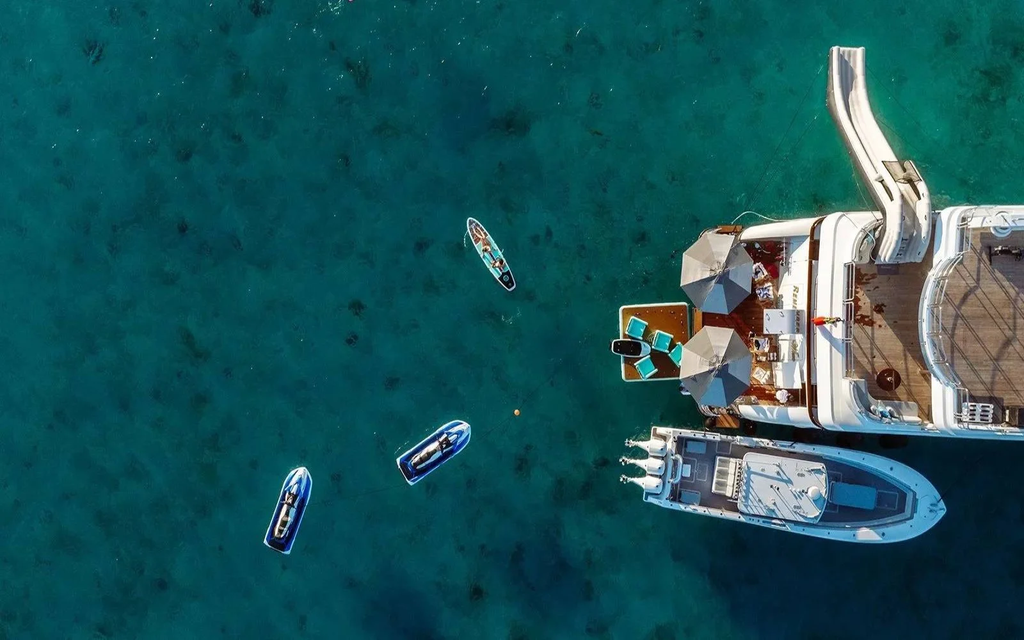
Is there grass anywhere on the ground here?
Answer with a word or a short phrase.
No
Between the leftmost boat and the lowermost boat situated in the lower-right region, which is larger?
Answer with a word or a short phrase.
the lowermost boat situated in the lower-right region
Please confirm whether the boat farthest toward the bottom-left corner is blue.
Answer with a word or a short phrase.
Yes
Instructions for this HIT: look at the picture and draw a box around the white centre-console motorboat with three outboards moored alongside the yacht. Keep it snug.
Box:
[614,425,947,543]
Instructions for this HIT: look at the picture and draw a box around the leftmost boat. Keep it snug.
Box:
[262,468,310,554]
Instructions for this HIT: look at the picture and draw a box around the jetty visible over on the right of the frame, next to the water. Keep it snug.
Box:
[618,302,691,383]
